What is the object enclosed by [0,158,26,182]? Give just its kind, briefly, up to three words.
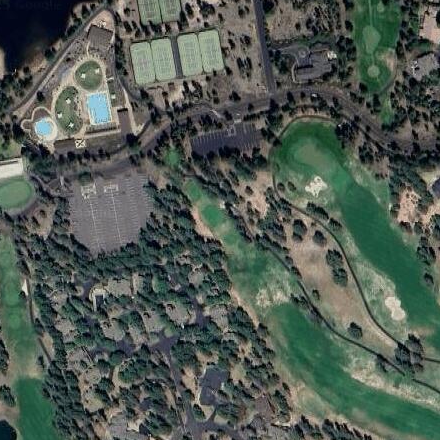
building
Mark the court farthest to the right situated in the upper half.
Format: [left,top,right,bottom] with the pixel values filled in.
[199,30,223,72]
